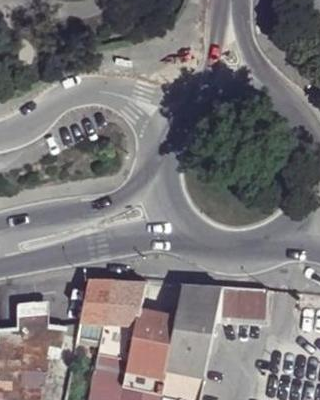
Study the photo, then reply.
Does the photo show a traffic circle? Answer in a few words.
Yes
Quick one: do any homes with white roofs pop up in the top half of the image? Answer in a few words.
No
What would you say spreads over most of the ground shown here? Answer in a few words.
paved ground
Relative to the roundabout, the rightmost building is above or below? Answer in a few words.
below it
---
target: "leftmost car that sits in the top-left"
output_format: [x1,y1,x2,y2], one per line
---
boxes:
[19,101,37,115]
